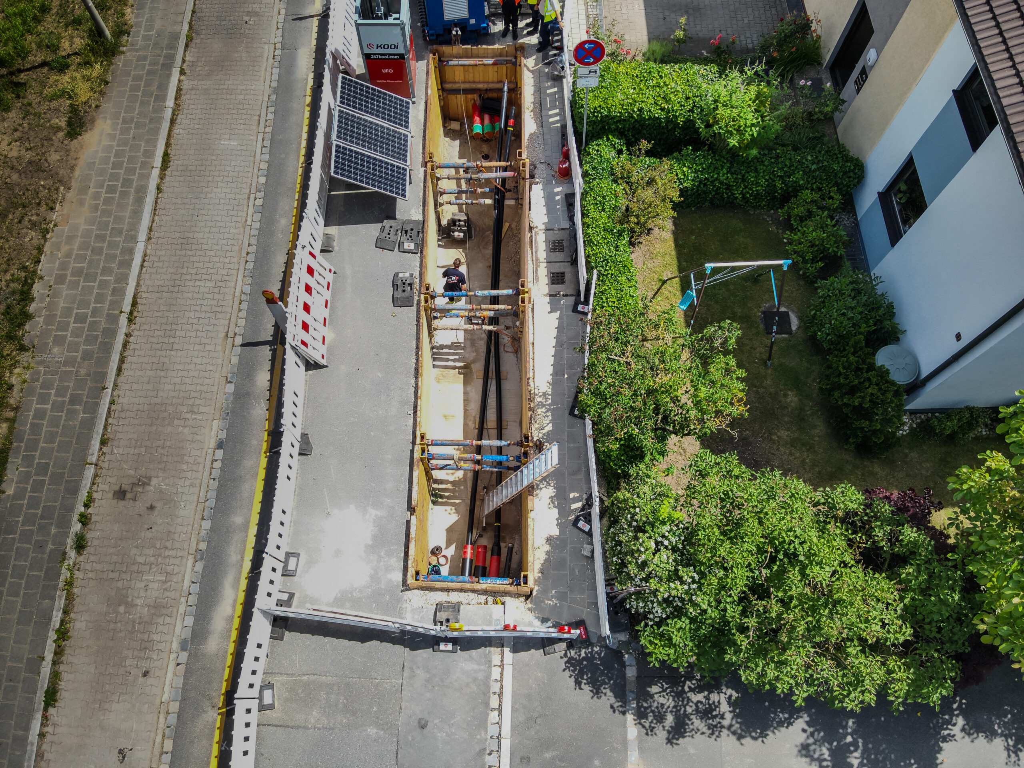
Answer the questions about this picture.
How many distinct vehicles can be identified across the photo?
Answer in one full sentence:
There are no vehicles in this view.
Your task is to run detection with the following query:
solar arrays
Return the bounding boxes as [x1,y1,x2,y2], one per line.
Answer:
[326,74,412,211]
